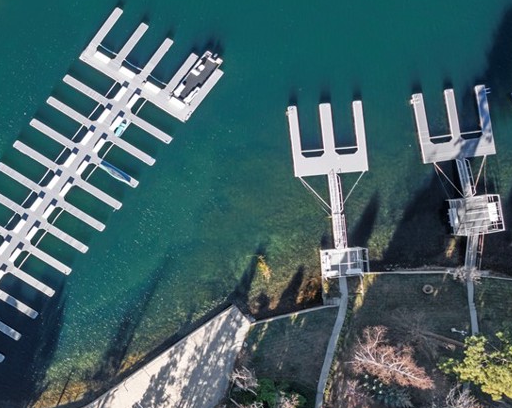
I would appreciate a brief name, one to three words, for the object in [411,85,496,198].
pier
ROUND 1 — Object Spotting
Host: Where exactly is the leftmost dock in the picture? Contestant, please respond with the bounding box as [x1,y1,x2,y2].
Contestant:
[0,9,222,362]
